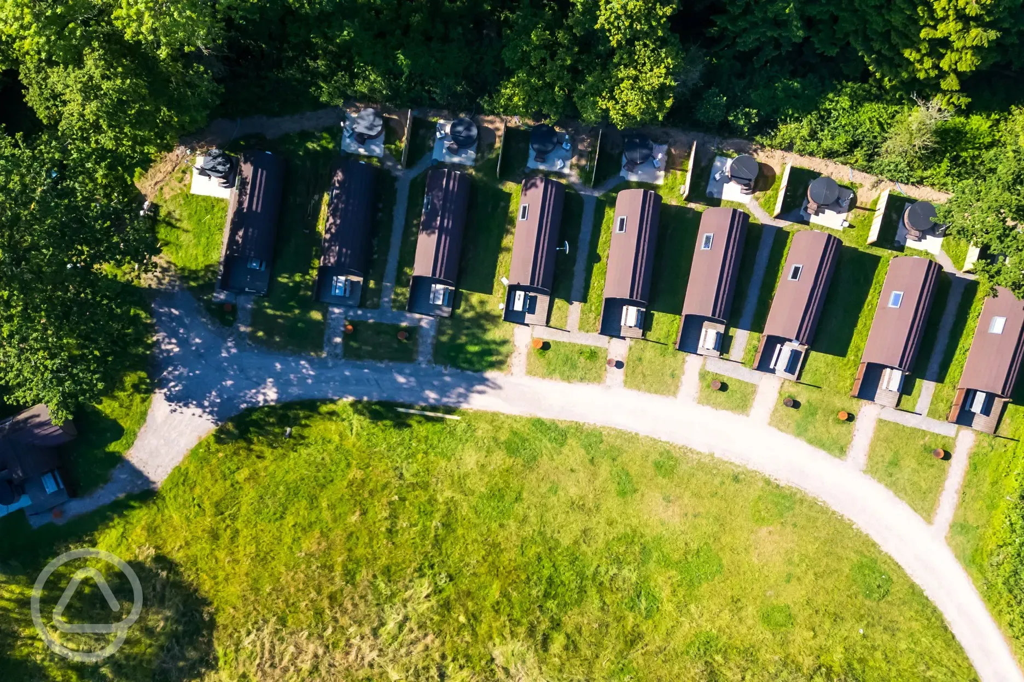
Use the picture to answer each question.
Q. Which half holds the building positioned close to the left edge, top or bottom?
bottom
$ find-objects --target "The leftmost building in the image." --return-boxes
[0,400,88,515]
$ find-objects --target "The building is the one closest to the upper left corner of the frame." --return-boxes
[216,146,290,299]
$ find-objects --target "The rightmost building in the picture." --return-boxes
[944,285,1024,435]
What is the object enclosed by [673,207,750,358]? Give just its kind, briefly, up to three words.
building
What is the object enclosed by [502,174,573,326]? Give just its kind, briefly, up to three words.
building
